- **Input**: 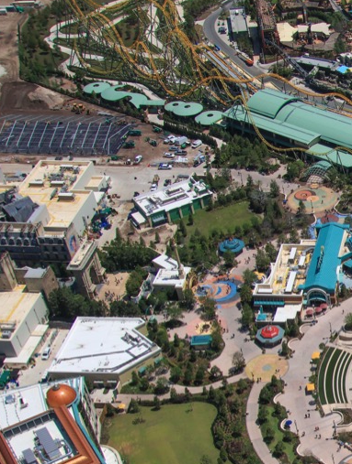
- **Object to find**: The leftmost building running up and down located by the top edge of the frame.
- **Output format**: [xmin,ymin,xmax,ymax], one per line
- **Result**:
[229,5,250,42]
